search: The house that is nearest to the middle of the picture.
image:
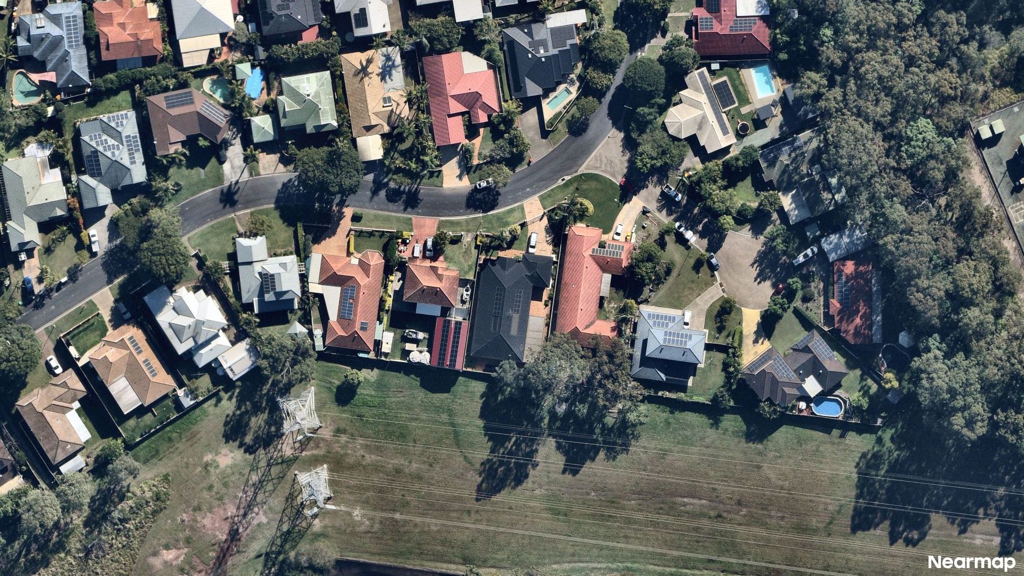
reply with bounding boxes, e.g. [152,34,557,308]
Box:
[470,254,555,361]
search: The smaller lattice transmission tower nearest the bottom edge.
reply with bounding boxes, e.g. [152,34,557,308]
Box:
[294,464,334,509]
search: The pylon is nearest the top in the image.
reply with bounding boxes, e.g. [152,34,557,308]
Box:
[277,387,323,436]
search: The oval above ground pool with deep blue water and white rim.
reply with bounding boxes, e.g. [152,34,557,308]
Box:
[810,396,845,419]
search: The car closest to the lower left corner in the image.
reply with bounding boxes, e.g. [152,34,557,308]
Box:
[46,354,63,375]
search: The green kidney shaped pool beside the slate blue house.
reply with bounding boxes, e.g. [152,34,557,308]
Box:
[12,70,42,105]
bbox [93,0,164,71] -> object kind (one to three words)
house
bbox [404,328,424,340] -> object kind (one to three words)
boat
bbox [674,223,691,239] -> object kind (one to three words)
car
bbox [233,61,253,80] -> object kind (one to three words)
gazebo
